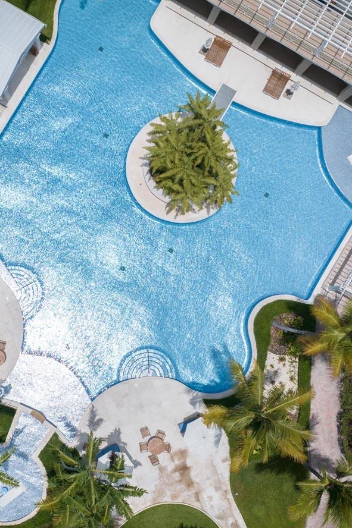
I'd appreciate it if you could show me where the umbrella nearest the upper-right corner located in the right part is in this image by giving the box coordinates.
[283,79,303,98]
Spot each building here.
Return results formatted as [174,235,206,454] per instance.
[164,0,352,112]
[0,0,46,105]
